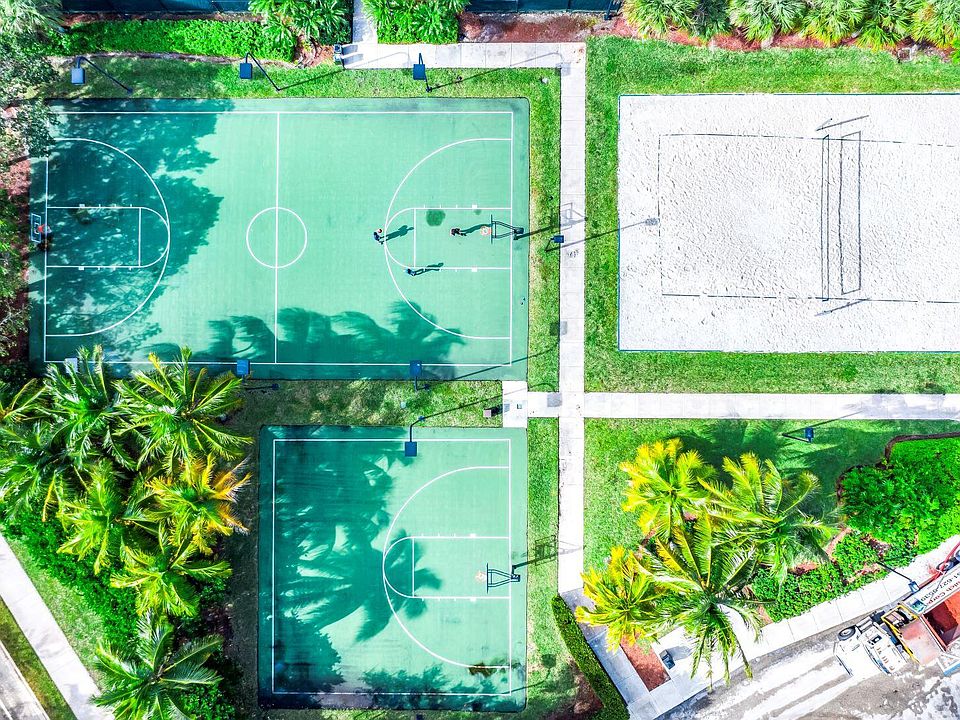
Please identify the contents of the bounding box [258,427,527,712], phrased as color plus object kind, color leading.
green basketball court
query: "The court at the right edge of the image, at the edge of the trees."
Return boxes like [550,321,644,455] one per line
[618,91,960,353]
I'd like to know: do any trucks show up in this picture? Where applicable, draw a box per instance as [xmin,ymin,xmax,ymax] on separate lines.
[831,556,960,688]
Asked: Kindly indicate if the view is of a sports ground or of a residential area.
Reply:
sports ground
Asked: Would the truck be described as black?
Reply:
No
